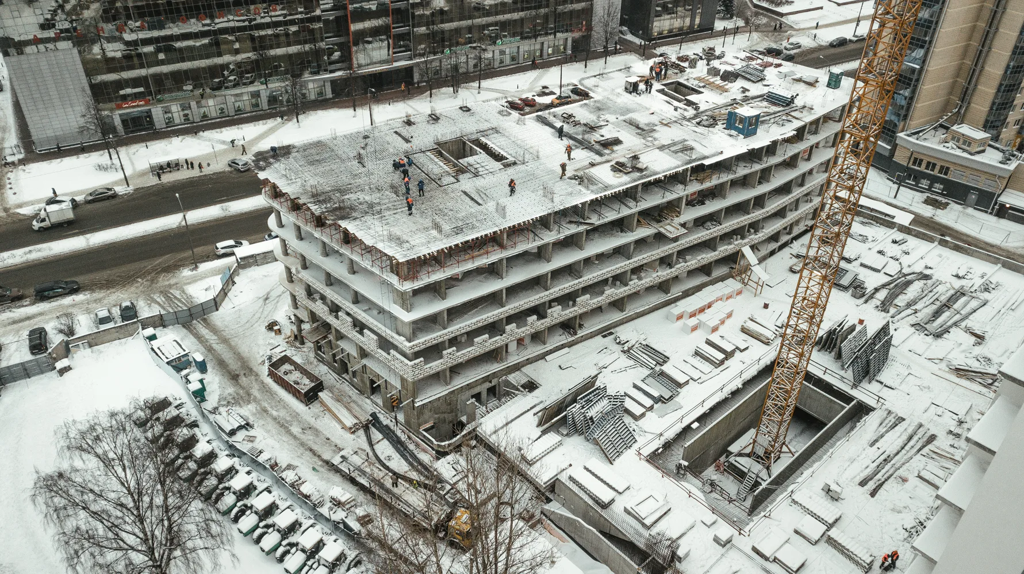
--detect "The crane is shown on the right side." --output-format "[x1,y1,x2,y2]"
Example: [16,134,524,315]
[726,0,923,493]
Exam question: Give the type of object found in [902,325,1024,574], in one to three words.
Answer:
building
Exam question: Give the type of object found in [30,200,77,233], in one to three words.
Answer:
truck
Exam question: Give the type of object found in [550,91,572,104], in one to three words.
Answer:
vehicle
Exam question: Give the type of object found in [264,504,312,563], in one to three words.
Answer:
work vehicle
